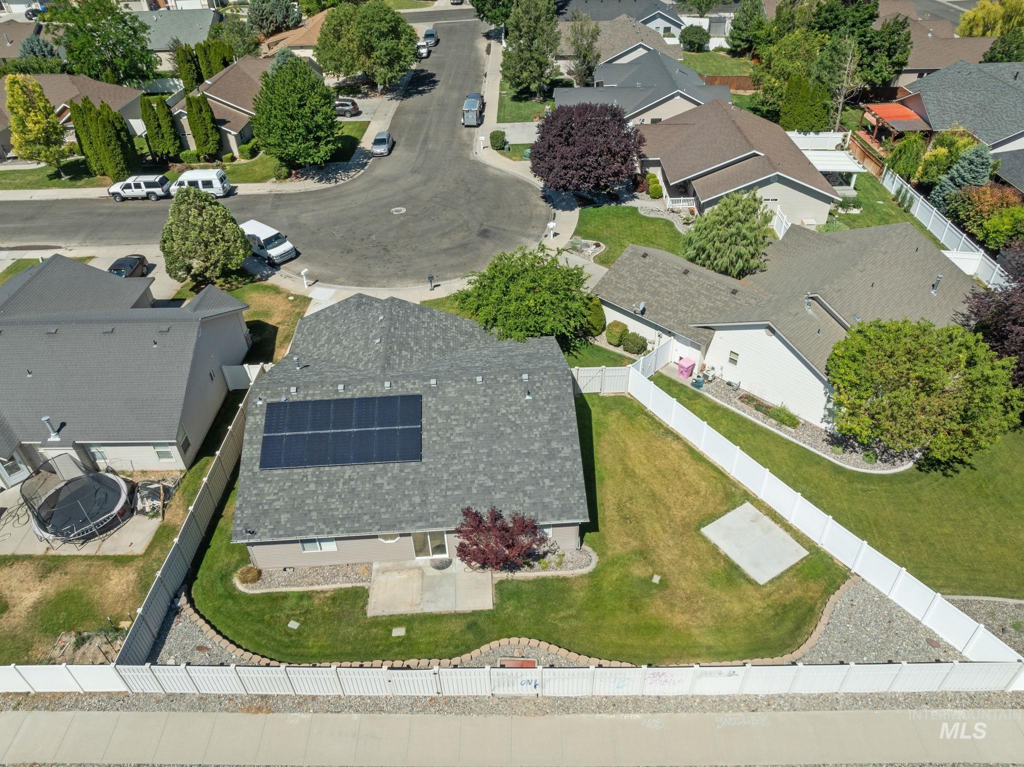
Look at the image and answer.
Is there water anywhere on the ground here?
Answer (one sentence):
No, there's no water in this view.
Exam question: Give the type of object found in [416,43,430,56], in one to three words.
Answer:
vehicle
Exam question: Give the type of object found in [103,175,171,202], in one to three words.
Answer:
car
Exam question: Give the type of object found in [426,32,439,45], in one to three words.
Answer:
vehicle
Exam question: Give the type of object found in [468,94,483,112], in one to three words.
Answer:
car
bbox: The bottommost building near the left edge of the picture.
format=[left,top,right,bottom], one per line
[0,250,258,495]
